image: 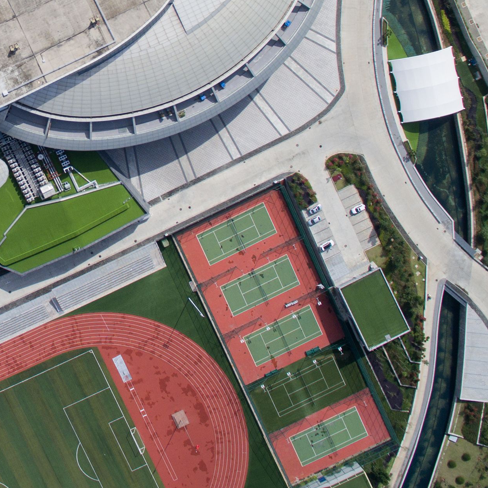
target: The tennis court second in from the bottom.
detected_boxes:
[266,357,345,417]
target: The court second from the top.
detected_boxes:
[219,255,299,317]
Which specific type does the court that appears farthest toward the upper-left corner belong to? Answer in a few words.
tennis court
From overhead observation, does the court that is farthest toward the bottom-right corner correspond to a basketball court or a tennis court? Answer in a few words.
tennis court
